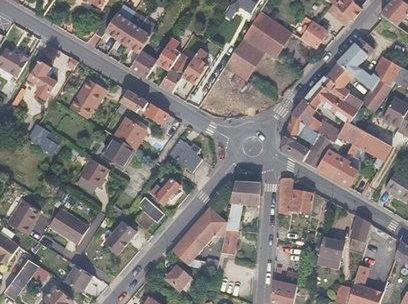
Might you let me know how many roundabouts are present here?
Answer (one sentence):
The photo contains exactly 1 roundabout.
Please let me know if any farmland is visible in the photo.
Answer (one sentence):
No, the scene doesn't show any farmland.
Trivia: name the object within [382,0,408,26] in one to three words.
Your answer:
house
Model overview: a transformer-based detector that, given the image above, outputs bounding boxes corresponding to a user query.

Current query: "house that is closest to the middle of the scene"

[170,140,204,172]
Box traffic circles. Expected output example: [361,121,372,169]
[205,110,292,185]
